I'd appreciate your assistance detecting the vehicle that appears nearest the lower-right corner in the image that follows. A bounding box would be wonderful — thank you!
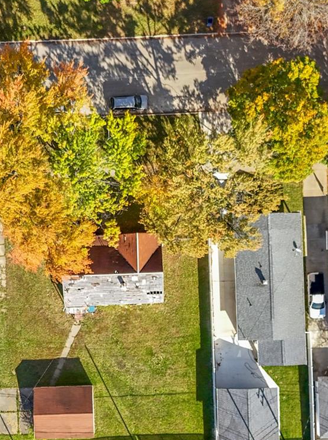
[308,272,328,320]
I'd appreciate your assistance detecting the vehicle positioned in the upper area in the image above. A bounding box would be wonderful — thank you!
[109,92,147,112]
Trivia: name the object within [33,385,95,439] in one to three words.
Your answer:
building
